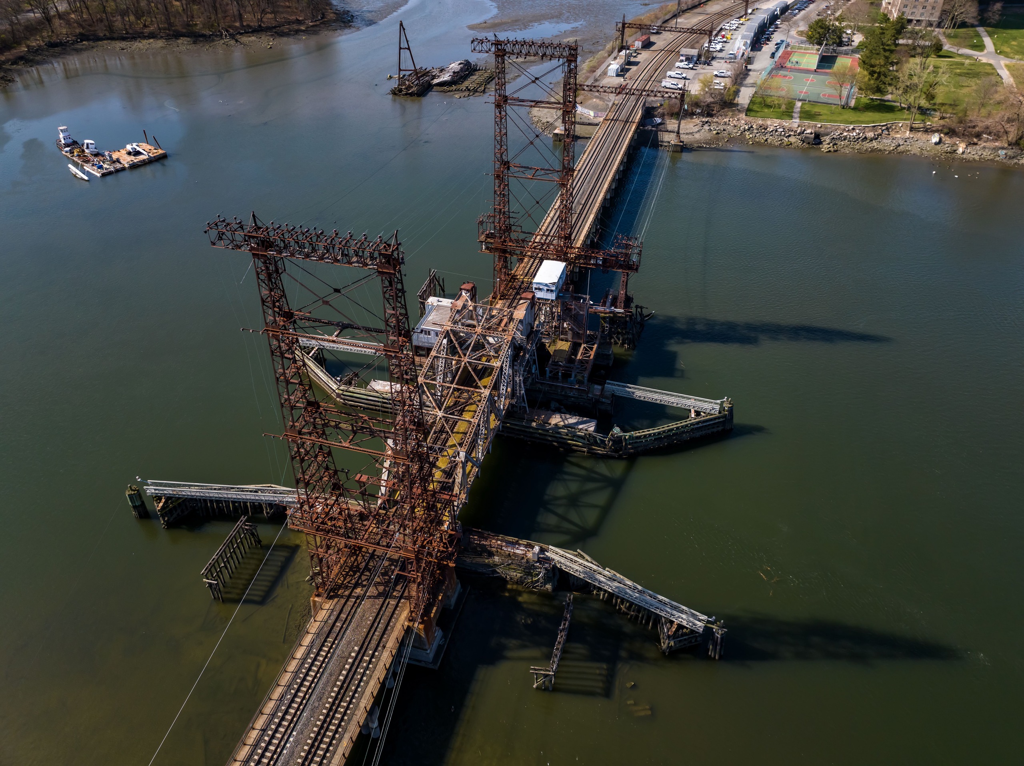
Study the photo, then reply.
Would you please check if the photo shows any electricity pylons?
Yes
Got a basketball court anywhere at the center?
No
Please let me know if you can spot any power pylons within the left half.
Yes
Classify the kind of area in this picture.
port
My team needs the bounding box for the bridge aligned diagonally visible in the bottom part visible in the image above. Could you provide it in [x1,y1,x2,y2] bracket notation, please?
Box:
[222,525,444,766]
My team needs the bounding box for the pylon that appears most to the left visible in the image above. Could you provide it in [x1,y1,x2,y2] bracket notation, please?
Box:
[197,210,467,623]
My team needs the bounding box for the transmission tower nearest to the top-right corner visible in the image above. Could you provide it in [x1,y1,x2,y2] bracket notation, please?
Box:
[467,30,592,304]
